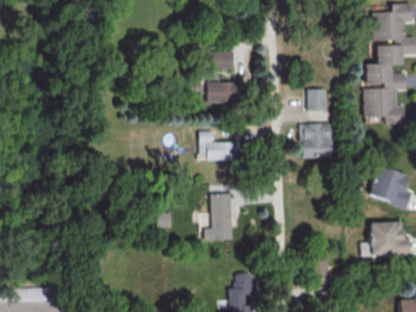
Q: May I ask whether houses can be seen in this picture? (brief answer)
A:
Yes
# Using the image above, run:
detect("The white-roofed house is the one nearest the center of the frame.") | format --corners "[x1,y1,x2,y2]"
[199,131,234,162]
